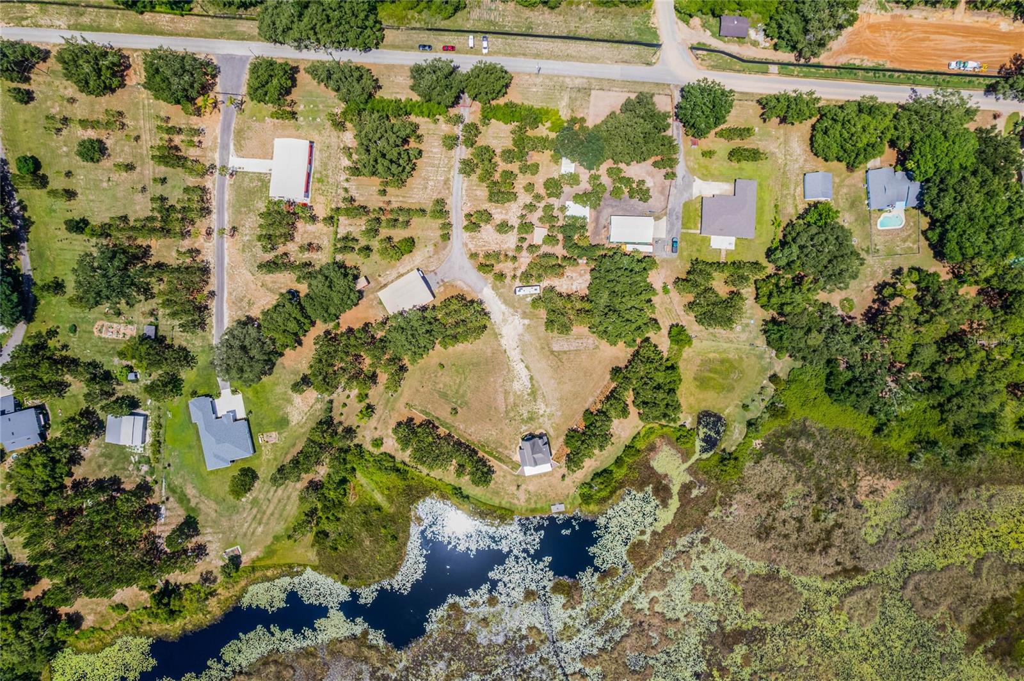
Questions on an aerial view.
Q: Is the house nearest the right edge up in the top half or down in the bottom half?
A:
top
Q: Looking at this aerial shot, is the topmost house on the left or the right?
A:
right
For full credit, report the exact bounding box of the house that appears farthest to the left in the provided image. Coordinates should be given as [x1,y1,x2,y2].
[0,395,45,454]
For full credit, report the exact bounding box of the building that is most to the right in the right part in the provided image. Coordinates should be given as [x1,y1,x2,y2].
[864,166,920,209]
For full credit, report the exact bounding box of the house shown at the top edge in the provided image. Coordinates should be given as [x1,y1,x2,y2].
[719,15,749,40]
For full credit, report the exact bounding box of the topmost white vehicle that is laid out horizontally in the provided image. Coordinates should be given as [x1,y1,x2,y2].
[946,59,985,72]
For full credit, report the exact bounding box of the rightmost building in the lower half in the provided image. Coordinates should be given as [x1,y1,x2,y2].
[519,432,555,476]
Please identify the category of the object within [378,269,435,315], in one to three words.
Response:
barn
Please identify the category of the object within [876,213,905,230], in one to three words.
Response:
swimming pool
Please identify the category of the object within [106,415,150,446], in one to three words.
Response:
shed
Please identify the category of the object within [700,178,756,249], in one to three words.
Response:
house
